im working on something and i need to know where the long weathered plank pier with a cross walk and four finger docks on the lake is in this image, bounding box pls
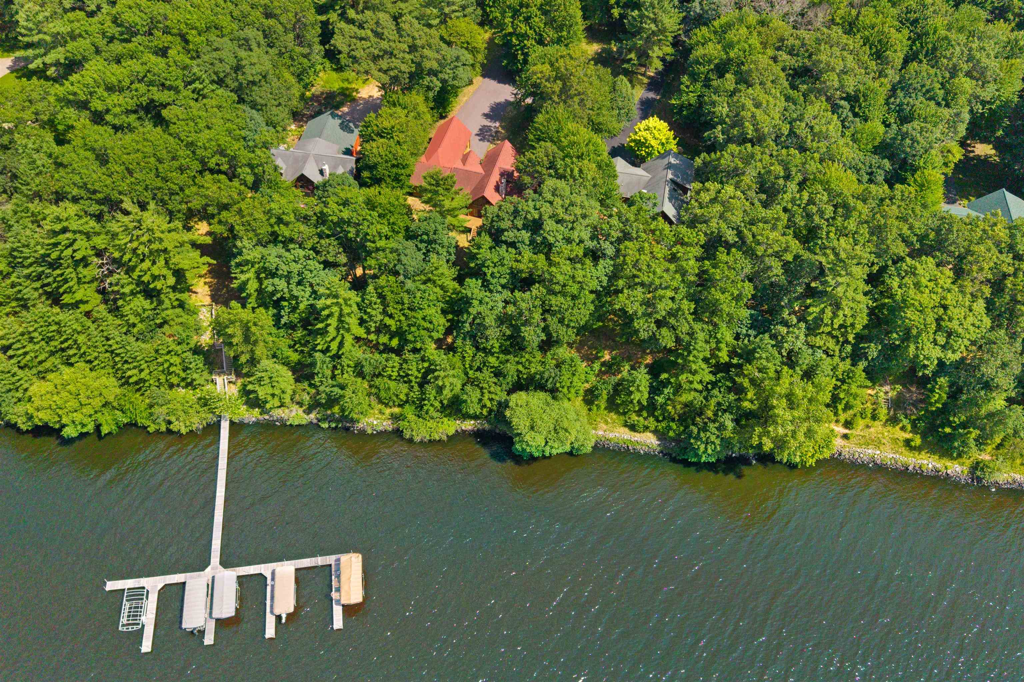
[103,420,354,653]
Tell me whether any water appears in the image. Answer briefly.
Yes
